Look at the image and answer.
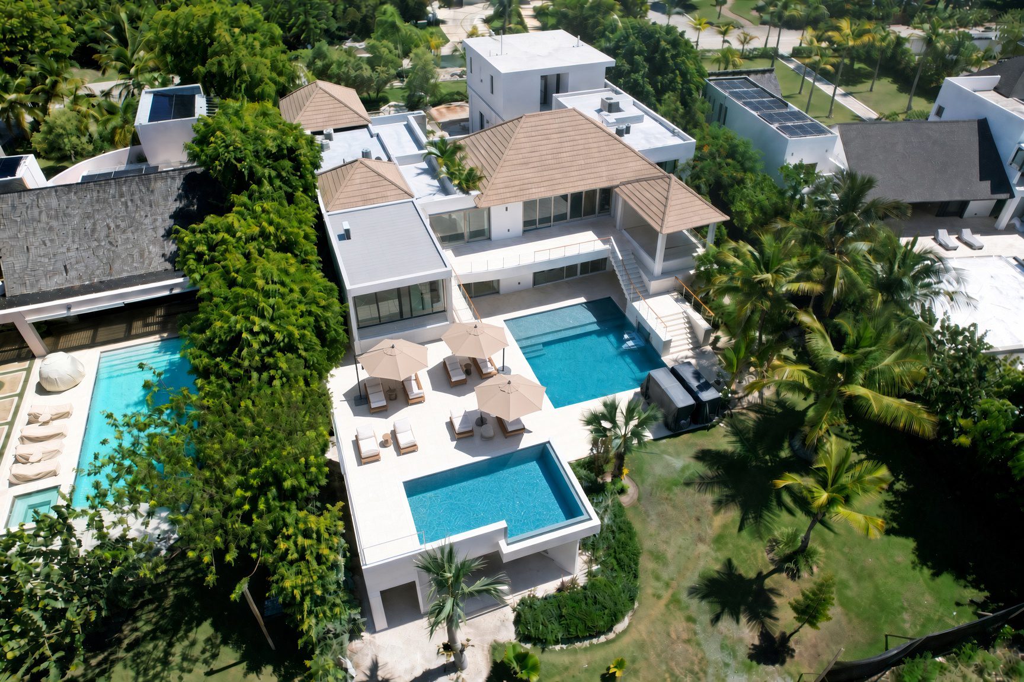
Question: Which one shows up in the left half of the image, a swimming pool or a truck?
swimming pool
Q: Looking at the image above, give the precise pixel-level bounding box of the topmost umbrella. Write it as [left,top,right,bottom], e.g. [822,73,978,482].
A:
[441,317,511,372]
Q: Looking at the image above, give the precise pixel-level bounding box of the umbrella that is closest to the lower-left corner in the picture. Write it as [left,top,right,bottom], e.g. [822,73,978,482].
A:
[351,336,431,410]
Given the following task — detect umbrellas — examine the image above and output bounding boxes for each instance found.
[441,317,511,372]
[469,368,550,428]
[351,336,431,410]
